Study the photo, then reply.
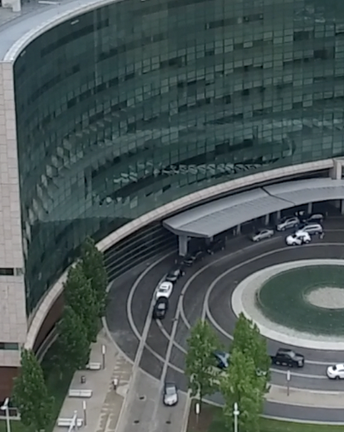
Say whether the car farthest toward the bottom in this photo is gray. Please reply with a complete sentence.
Yes, the car farthest toward the bottom appears gray.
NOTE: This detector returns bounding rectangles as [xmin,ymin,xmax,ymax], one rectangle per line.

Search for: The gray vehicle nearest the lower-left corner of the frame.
[160,381,180,407]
